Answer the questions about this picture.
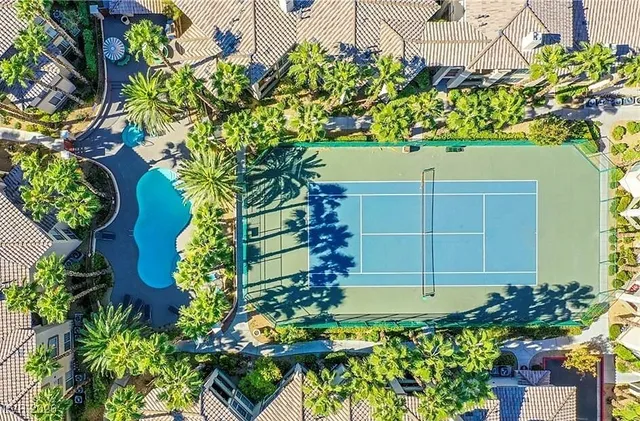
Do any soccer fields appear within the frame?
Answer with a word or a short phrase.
No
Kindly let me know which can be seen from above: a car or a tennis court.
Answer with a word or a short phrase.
tennis court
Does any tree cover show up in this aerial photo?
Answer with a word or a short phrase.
Yes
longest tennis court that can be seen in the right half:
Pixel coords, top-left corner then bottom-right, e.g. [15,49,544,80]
[247,147,600,322]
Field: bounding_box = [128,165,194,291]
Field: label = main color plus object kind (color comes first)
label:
blue swimming pool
